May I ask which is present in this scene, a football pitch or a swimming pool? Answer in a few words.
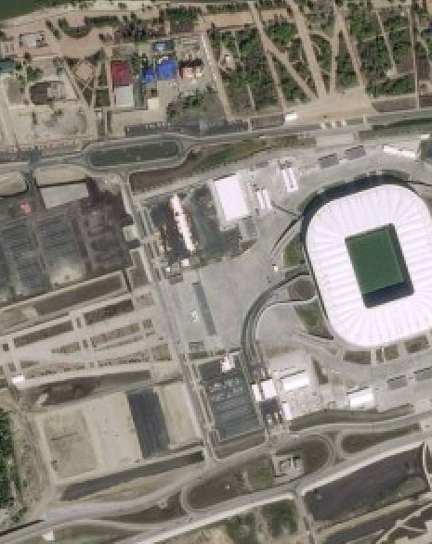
football pitch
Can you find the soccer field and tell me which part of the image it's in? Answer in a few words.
right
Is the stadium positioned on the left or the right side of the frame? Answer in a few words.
right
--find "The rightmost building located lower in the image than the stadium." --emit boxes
[347,390,375,407]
